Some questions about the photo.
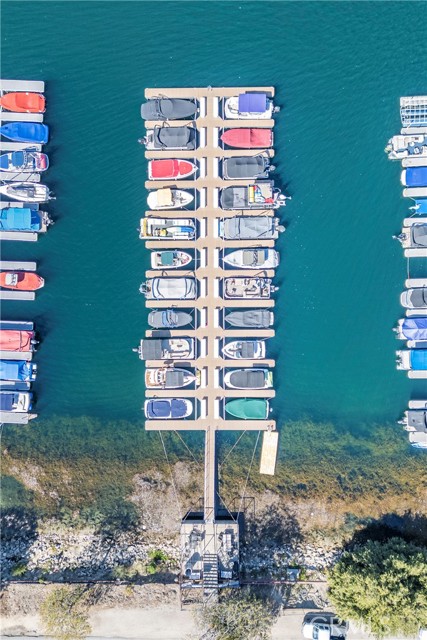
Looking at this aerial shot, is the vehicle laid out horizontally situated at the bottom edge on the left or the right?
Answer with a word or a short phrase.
right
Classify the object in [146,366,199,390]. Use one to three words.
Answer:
boat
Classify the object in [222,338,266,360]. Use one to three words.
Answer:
boat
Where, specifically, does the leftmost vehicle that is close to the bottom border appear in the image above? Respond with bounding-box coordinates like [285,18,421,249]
[303,620,347,640]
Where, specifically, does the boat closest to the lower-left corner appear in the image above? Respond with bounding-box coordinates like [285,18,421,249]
[0,390,39,412]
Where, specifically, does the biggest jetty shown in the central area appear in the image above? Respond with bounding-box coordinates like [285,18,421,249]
[145,88,274,431]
